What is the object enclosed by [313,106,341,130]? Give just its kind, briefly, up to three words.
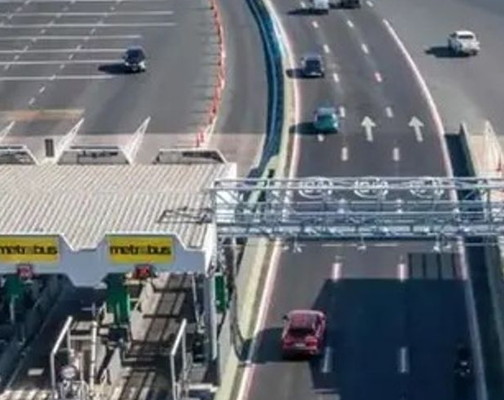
car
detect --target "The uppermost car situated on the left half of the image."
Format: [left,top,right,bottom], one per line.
[124,48,151,70]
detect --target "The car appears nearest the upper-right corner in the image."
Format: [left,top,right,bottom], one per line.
[449,33,474,55]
